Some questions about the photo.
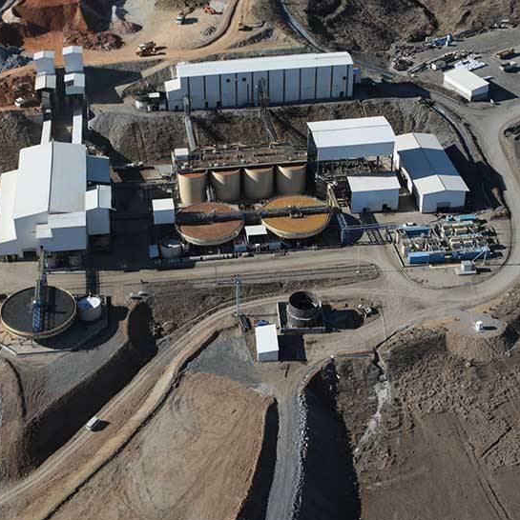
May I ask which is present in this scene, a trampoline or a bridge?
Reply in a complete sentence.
I can see a bridge in this picture.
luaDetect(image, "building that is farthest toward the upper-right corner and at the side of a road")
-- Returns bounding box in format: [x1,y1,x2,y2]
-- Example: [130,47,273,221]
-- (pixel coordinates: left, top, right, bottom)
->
[443,65,493,102]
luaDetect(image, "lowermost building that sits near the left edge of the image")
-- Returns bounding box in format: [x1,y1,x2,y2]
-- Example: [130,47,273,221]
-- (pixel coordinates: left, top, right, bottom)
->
[0,141,116,278]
